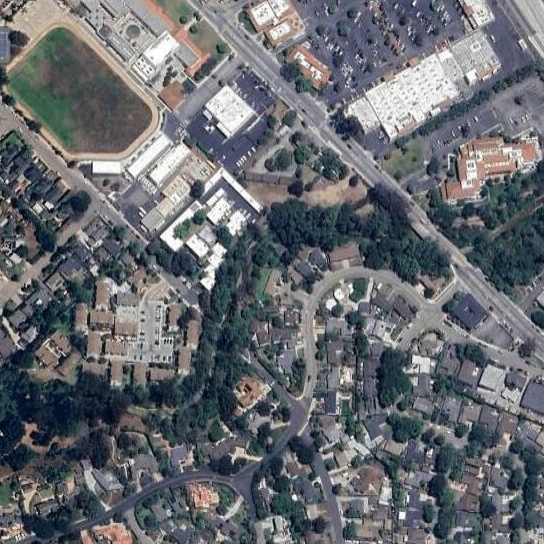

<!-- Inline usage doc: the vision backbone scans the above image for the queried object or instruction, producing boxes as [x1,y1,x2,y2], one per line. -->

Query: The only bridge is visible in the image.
[404,200,463,259]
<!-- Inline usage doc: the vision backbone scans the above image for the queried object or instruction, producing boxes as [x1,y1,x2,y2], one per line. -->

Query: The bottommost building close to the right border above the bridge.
[444,136,542,201]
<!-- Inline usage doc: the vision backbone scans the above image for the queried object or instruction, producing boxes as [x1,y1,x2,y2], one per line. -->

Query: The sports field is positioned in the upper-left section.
[1,21,158,160]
